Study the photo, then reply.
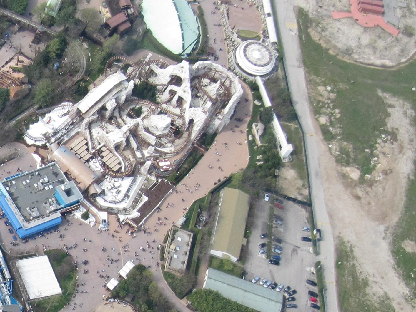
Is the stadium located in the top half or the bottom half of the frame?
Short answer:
top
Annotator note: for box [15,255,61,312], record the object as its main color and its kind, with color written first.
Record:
white tent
